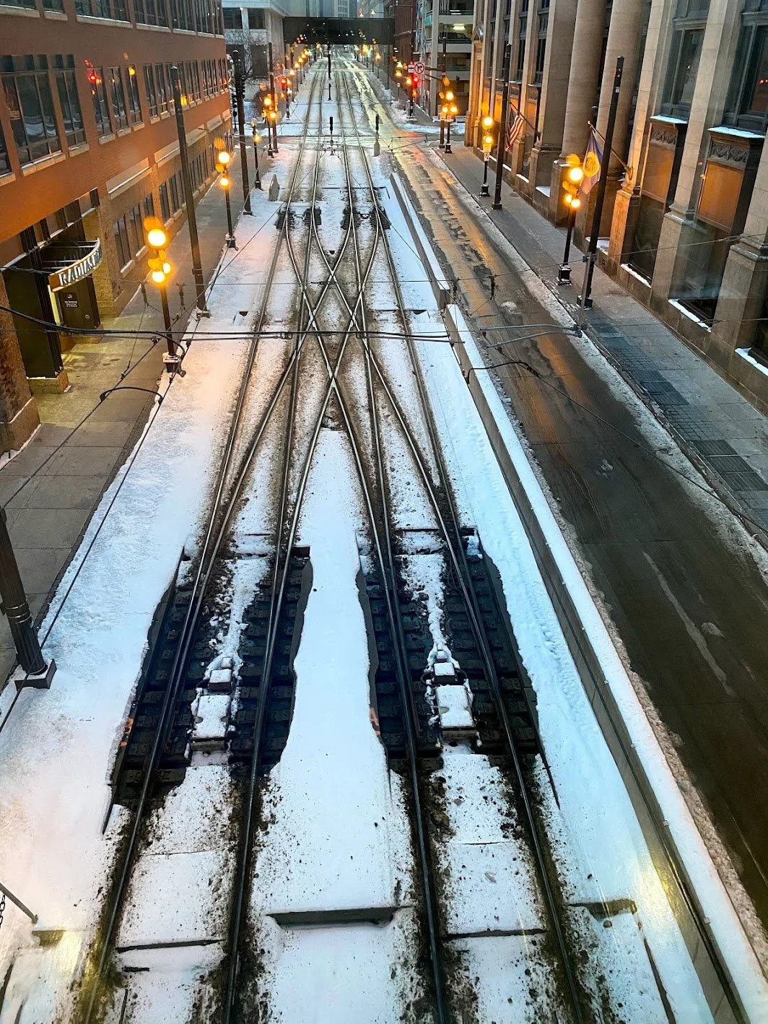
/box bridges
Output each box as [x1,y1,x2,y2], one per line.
[282,17,398,45]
